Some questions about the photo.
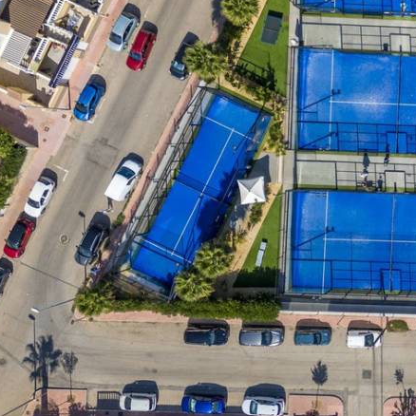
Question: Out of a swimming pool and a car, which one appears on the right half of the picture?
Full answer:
Looking on the right half of the picture, you will find a car.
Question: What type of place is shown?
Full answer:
The picture captures a sports ground.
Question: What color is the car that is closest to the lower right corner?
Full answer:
In this view, the car that is closest to the lower right corner is white.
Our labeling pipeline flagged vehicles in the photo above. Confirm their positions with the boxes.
[238,326,286,350]
[182,325,231,349]
[74,214,112,264]
[293,326,333,349]
[241,395,286,416]
[346,328,383,349]
[126,26,161,71]
[24,170,60,217]
[73,77,107,120]
[181,392,228,416]
[104,153,144,204]
[118,390,161,413]
[170,35,201,77]
[108,7,142,53]
[3,215,38,258]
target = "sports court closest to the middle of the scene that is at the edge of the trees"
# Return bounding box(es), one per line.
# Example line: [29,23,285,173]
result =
[109,84,278,302]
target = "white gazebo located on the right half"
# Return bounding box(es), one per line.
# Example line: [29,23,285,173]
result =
[237,176,273,204]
